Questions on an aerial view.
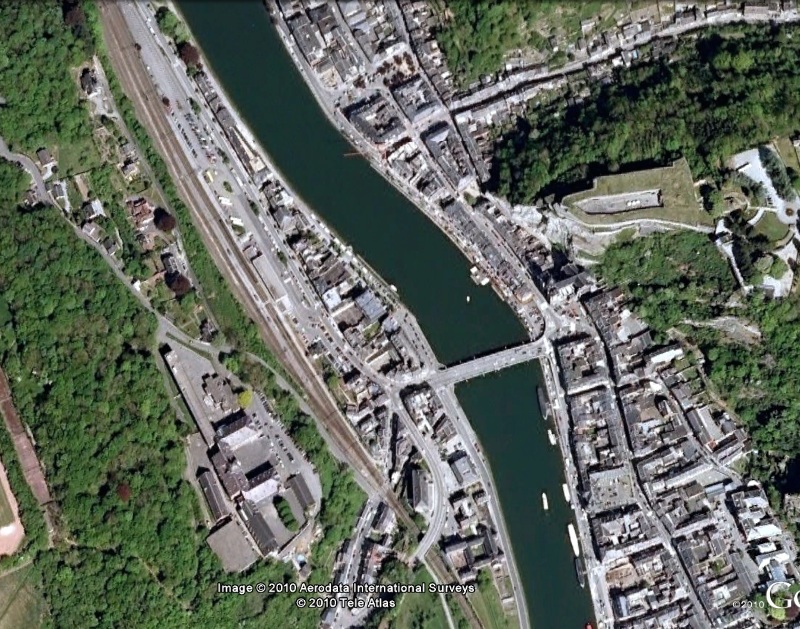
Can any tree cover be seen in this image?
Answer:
Yes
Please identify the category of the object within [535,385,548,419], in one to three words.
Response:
ship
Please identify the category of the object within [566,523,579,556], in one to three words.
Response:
boat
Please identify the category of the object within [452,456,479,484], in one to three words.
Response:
building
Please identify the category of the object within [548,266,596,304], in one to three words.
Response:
building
